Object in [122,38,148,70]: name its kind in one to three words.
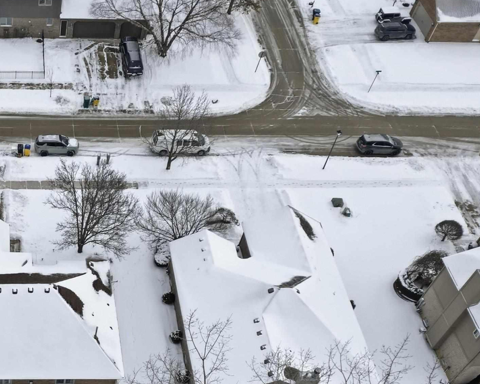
car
